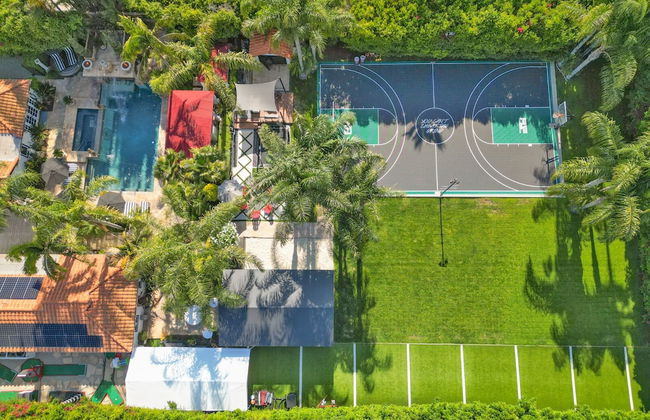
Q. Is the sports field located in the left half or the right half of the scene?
right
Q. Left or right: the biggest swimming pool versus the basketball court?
to the left of it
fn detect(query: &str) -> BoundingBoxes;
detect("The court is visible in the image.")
[317,62,567,198]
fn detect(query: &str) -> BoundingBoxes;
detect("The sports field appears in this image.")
[249,346,650,407]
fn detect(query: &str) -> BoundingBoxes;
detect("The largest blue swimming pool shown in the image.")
[81,81,164,194]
